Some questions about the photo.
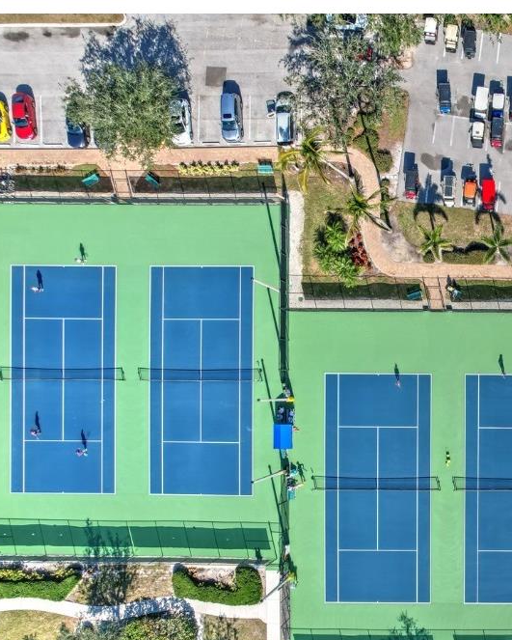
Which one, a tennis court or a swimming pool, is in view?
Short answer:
tennis court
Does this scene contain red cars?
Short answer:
Yes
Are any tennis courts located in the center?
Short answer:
Yes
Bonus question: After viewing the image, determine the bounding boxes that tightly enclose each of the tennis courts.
[448,309,512,640]
[287,309,448,640]
[0,203,132,556]
[132,203,286,556]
